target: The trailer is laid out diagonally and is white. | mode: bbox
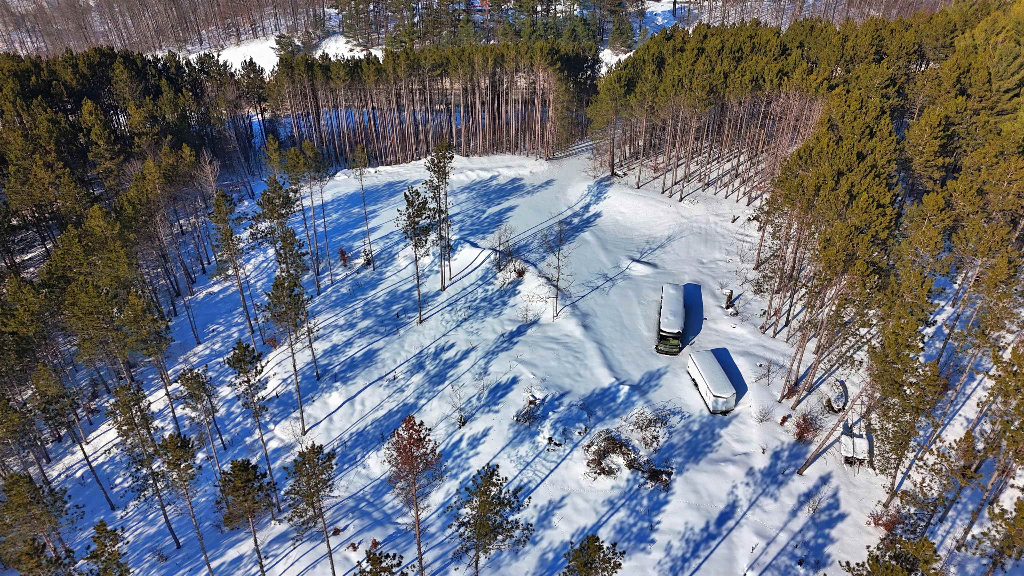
[687,353,735,419]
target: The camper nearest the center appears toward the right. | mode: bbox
[655,285,686,355]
